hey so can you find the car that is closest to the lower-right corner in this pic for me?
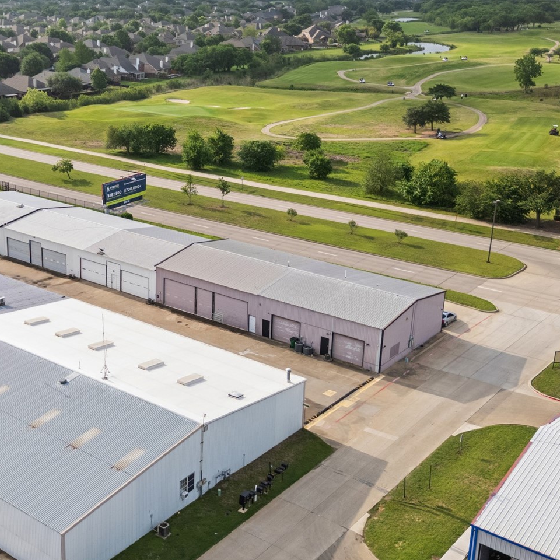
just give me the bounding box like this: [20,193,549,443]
[442,308,456,326]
